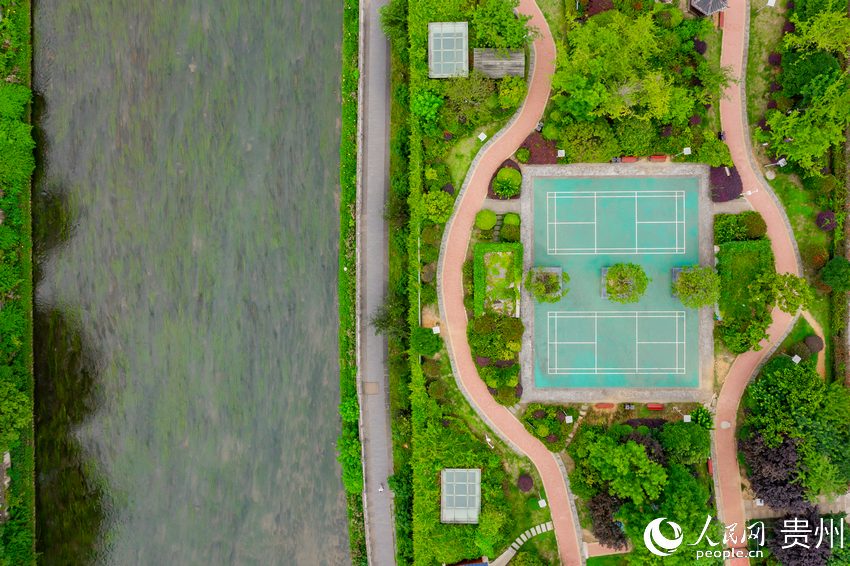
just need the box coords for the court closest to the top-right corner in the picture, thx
[547,191,686,254]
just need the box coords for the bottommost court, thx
[548,311,686,373]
